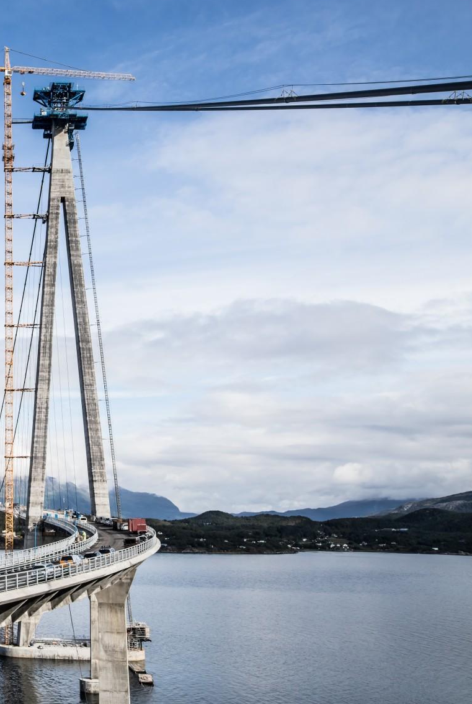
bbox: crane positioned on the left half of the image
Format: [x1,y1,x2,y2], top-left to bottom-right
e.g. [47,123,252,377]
[0,51,138,645]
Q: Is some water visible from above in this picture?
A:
Yes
